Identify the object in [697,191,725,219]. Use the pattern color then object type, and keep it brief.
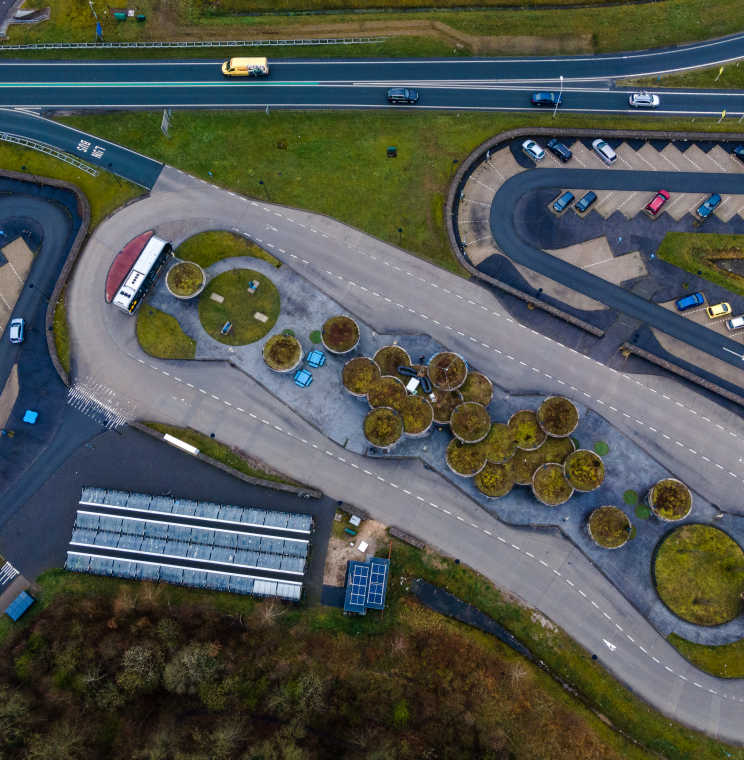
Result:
blue car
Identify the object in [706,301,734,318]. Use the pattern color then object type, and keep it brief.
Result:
yellow car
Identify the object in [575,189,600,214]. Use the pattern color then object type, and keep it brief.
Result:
blue car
